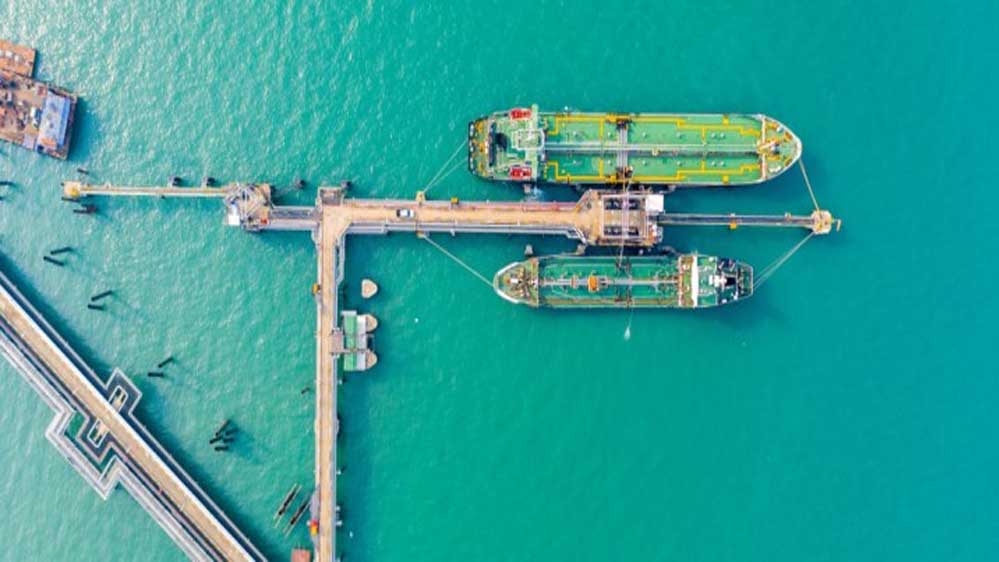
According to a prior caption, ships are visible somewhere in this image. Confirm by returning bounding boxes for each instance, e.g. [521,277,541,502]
[470,104,805,189]
[0,66,81,160]
[0,41,37,78]
[493,255,754,307]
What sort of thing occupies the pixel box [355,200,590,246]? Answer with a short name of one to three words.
pier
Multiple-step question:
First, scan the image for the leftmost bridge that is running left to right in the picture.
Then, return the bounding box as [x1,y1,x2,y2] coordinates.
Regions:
[80,183,229,196]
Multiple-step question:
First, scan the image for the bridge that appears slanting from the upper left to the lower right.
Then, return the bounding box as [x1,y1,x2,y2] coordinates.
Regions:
[0,271,271,562]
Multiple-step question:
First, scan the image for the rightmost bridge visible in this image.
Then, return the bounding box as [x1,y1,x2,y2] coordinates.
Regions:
[655,212,814,229]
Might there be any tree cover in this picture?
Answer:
No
